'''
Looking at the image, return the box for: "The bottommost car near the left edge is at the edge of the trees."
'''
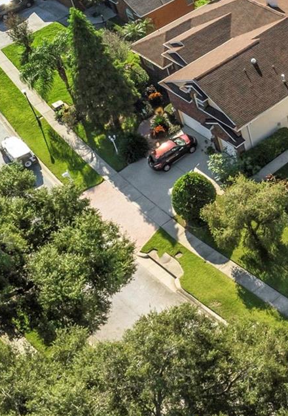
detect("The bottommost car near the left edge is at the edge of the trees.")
[0,140,36,177]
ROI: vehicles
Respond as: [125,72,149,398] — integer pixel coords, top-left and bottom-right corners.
[0,0,35,16]
[142,131,193,164]
[0,140,36,177]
